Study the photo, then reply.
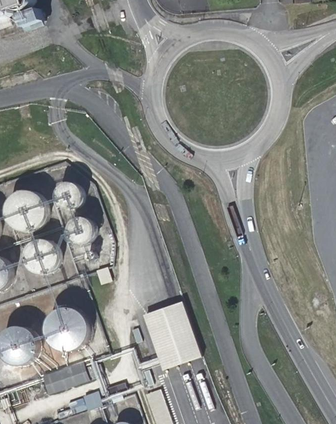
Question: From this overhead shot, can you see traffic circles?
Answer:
Yes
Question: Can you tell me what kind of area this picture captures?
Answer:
industrial area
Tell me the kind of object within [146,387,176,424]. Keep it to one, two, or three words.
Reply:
building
